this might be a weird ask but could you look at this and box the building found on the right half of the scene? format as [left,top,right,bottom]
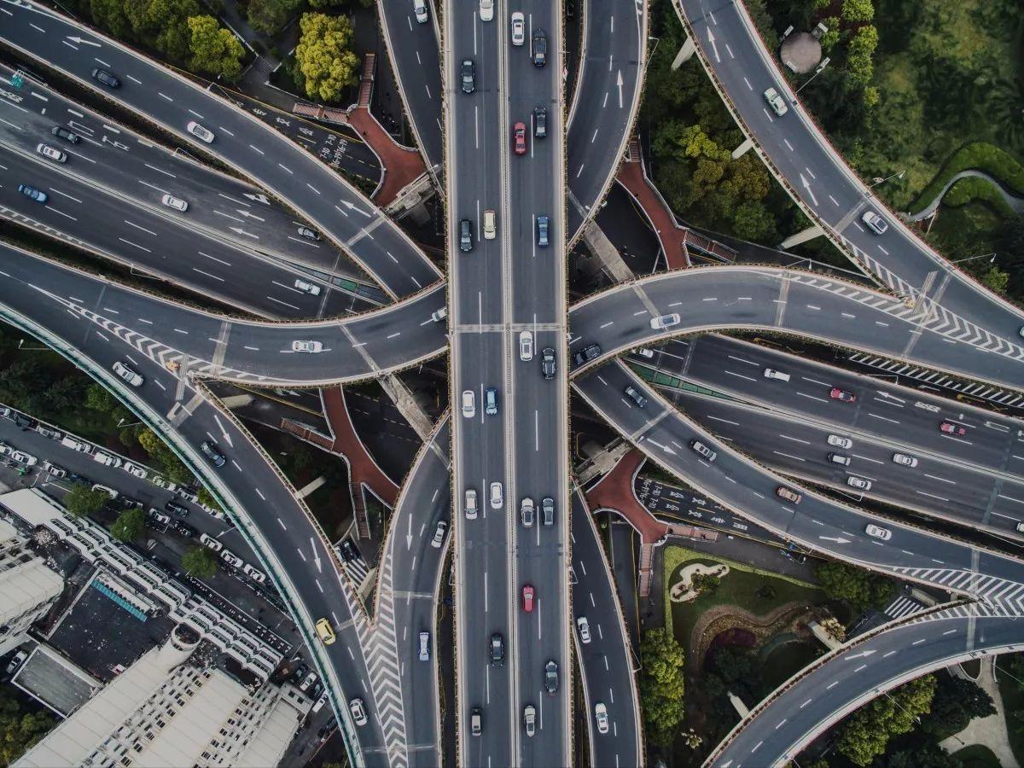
[779,33,820,75]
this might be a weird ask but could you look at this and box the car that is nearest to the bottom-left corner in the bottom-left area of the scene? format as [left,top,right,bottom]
[5,647,30,673]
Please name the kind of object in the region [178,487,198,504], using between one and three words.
car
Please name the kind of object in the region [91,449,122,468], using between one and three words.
vehicle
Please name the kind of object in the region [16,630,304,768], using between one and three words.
building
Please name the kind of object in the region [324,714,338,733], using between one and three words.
car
